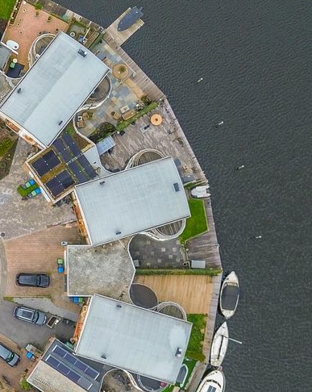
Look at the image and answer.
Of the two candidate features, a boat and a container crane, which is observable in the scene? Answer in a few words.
boat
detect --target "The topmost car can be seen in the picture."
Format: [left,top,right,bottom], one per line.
[16,273,49,288]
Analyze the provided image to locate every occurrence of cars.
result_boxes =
[14,306,48,325]
[0,342,19,366]
[16,273,49,288]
